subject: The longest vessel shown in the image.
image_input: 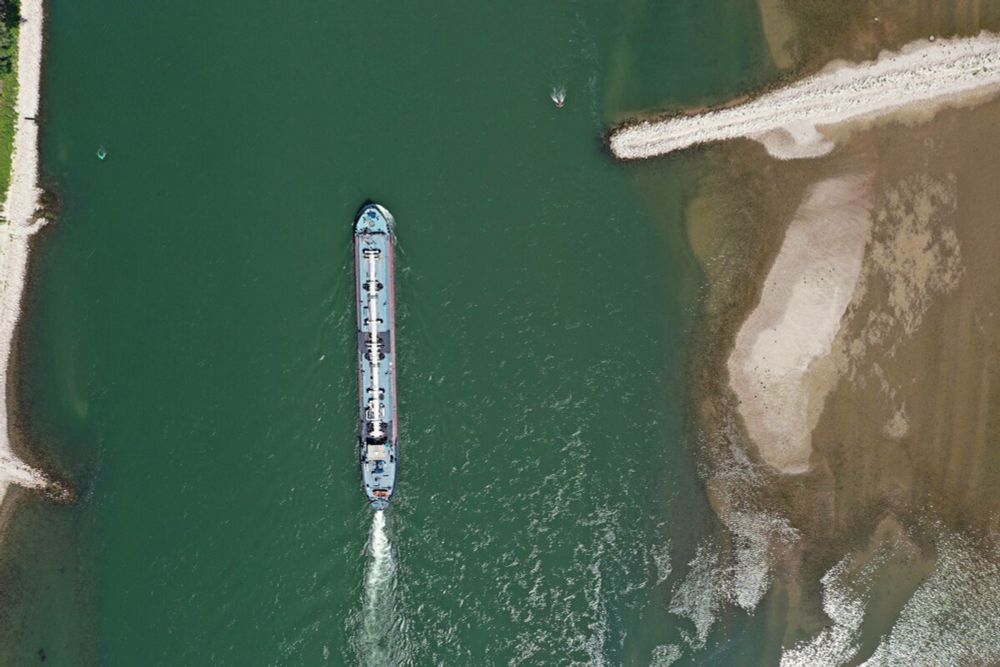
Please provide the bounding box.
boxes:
[354,204,397,509]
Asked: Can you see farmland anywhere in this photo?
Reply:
No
